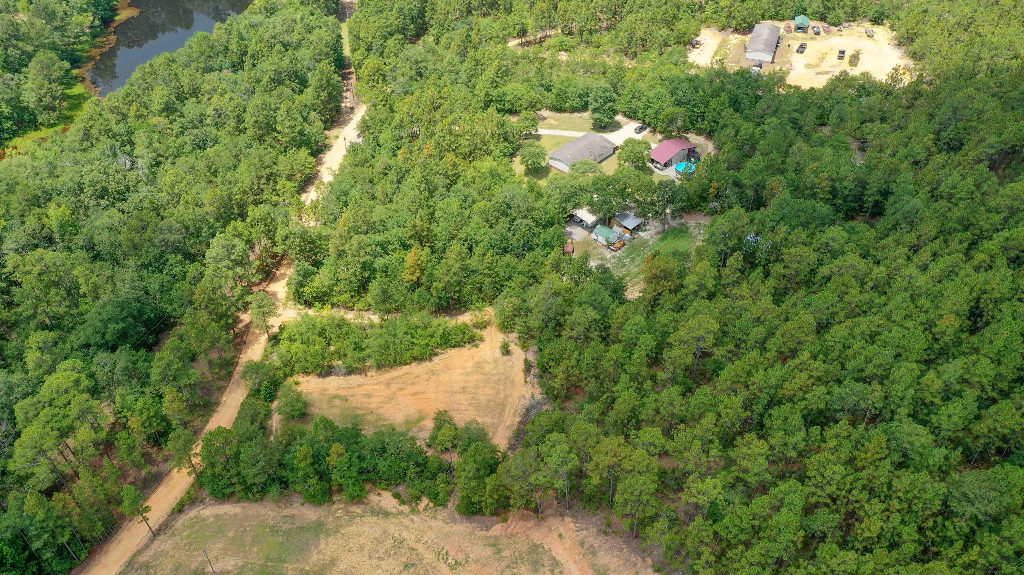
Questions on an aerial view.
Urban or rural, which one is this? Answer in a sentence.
The area shown here is rural.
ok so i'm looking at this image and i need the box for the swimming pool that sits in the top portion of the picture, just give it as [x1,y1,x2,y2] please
[674,159,697,174]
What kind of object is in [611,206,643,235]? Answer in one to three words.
barn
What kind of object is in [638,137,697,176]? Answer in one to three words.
barn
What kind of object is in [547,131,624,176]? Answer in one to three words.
house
